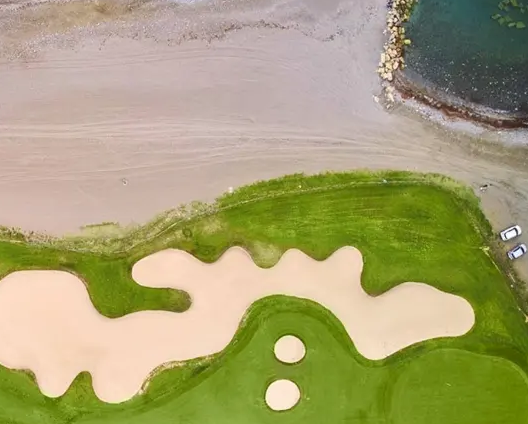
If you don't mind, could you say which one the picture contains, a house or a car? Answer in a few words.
car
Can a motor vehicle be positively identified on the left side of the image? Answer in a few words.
No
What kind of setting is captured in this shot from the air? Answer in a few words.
golf course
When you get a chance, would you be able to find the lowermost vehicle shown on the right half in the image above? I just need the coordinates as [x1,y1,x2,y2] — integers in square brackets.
[506,244,528,261]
